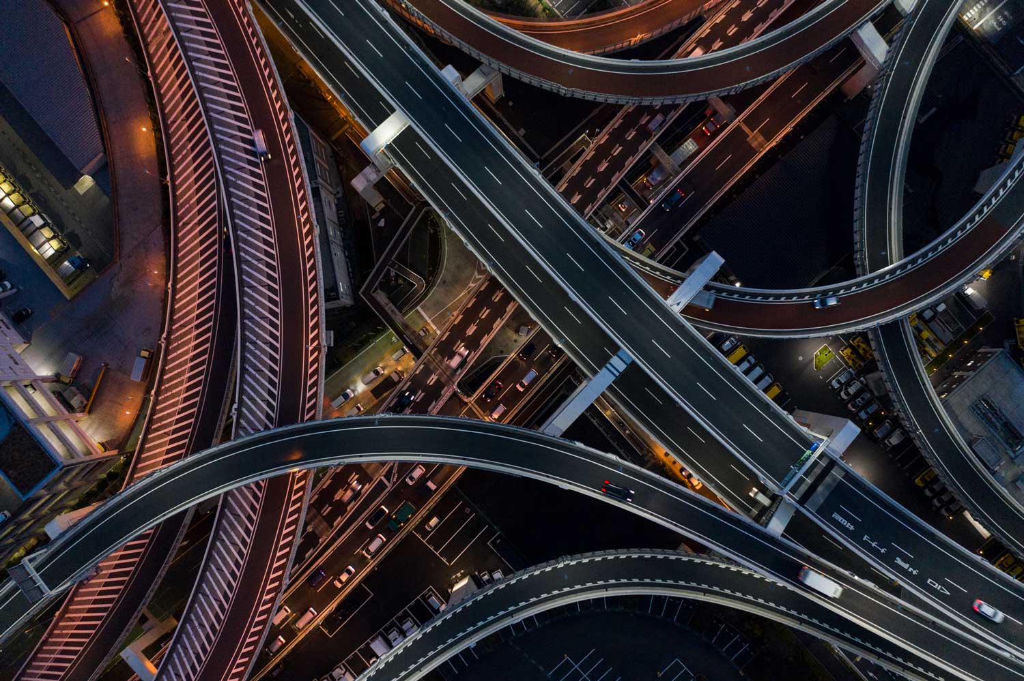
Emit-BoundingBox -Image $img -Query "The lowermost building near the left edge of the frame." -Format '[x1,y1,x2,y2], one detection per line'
[0,384,84,499]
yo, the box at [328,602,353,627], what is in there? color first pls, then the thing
black car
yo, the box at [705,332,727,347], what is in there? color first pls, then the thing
black car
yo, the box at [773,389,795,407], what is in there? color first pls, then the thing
black vehicle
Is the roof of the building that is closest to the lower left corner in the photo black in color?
Yes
